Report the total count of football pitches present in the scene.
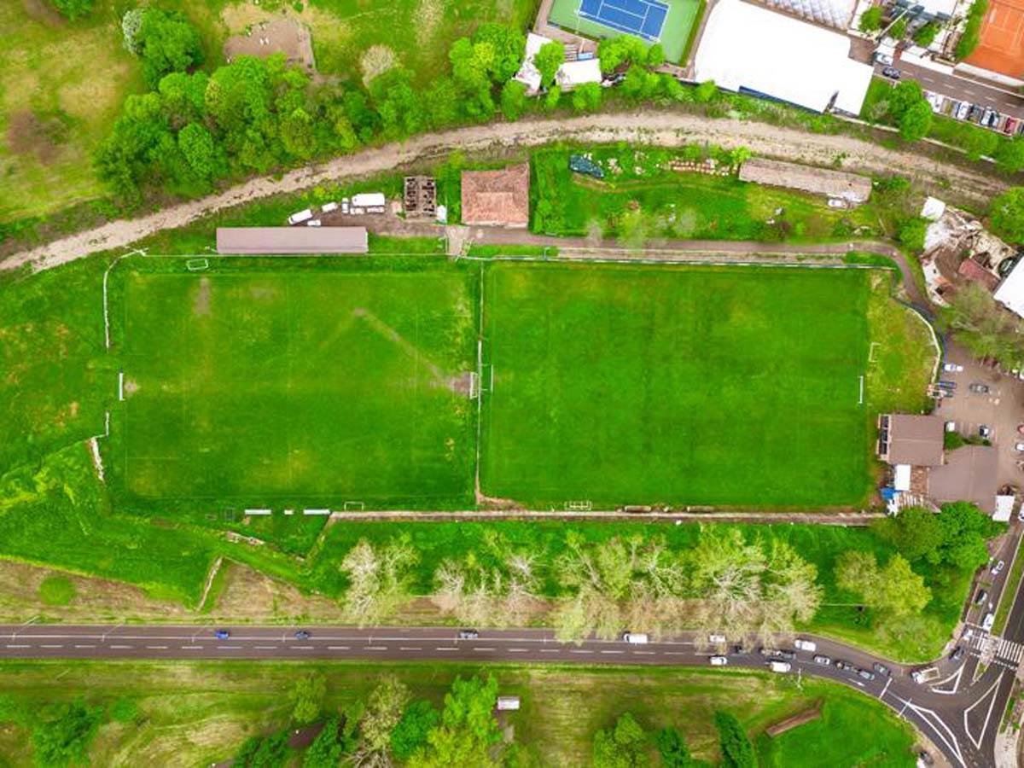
2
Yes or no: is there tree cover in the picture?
Yes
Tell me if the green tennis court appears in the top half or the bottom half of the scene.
top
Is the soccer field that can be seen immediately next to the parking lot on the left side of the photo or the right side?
right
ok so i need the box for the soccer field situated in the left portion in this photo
[125,272,477,501]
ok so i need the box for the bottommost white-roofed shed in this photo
[497,694,520,709]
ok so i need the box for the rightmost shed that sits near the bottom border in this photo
[764,701,823,738]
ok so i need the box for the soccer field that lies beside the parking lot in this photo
[488,267,868,507]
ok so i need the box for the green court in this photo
[547,0,698,64]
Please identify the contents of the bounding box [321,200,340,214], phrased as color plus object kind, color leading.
white vehicle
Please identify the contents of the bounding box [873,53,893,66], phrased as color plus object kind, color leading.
white vehicle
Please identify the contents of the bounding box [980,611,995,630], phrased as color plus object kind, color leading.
white car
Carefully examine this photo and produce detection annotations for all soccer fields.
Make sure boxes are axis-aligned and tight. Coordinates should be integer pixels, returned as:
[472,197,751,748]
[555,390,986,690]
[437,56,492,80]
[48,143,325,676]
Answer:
[488,267,868,507]
[125,272,477,501]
